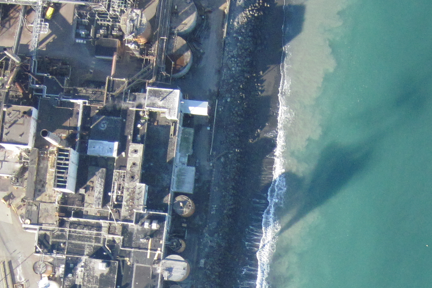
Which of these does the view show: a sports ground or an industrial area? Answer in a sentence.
What you see here is an industrial area.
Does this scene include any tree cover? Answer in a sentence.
No, the picture contains no tree cover.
